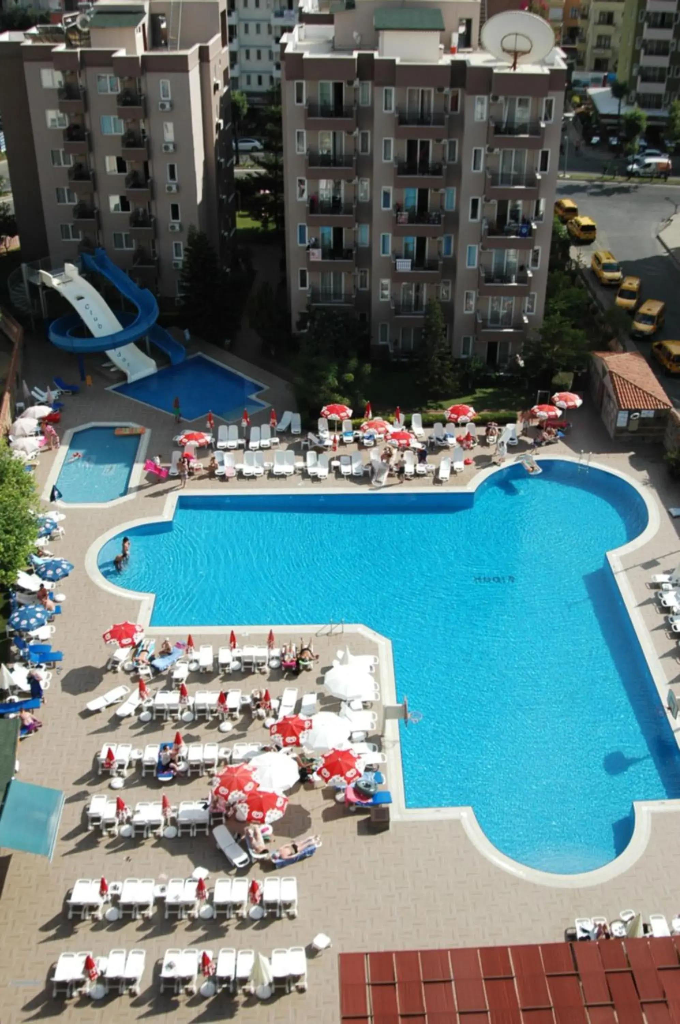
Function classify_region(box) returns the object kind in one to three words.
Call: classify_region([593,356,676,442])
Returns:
shed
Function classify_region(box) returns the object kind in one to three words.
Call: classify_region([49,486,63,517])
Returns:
umbrella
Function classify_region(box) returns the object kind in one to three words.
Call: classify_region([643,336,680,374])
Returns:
car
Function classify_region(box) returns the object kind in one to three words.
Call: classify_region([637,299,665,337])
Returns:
car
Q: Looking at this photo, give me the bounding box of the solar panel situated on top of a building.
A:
[25,21,84,41]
